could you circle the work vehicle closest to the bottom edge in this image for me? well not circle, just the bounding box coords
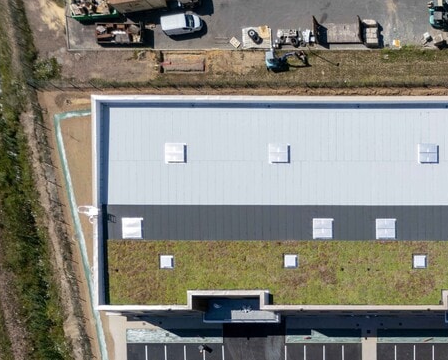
[265,47,302,71]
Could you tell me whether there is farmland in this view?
No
